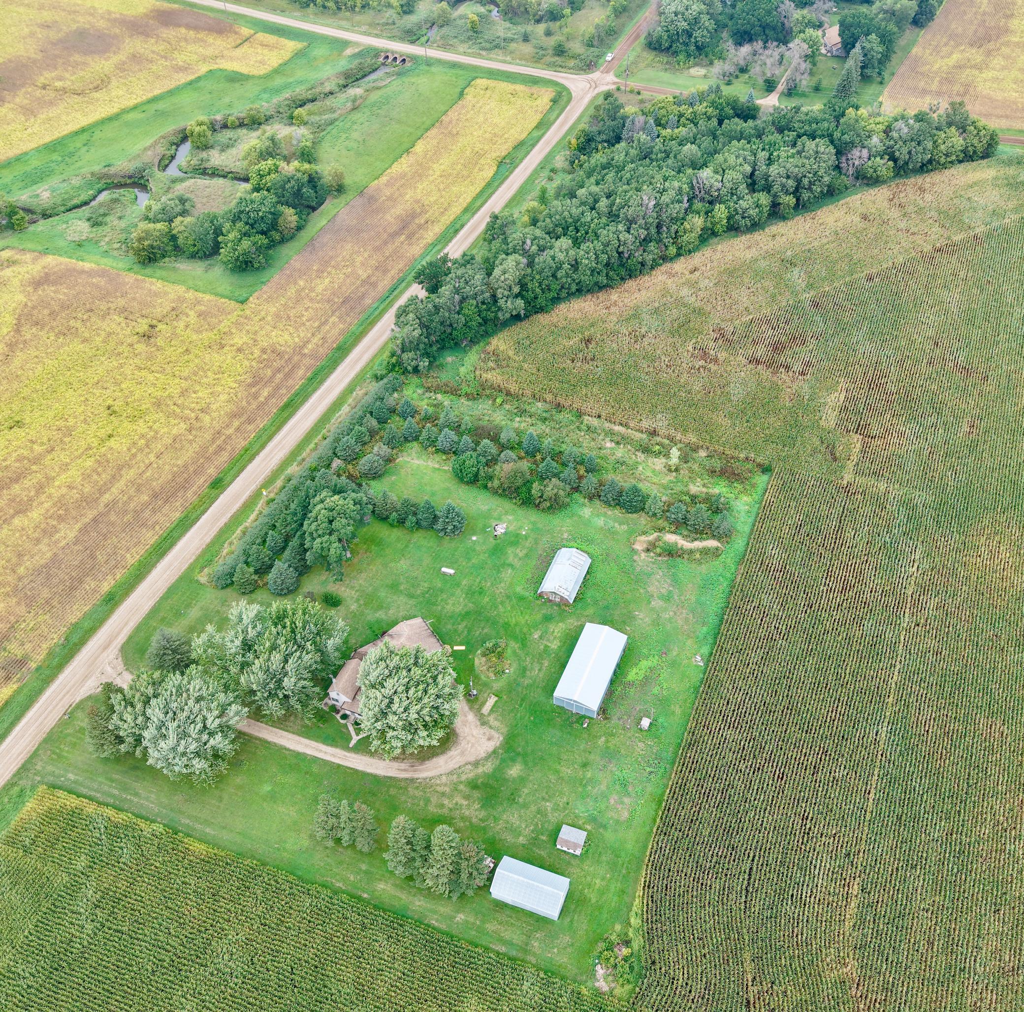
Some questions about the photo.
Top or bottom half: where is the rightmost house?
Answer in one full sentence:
The rightmost house is in the top half of the image.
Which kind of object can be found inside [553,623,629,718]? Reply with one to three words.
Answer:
shed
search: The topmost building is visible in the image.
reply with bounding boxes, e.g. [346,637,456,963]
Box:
[824,25,849,58]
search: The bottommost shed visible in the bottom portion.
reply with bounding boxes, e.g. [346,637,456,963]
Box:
[490,855,572,921]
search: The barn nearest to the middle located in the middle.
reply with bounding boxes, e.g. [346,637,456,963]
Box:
[536,545,589,604]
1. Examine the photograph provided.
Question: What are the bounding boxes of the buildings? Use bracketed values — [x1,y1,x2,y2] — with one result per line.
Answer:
[490,855,572,921]
[327,617,444,728]
[553,623,629,718]
[824,25,849,58]
[556,824,588,856]
[536,545,589,604]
